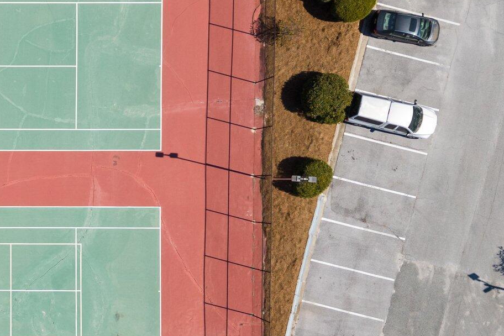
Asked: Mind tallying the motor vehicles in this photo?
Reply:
2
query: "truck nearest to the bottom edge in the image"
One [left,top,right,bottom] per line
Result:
[342,91,435,139]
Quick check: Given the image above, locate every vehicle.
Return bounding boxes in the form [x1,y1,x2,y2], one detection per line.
[342,91,435,139]
[368,8,440,48]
